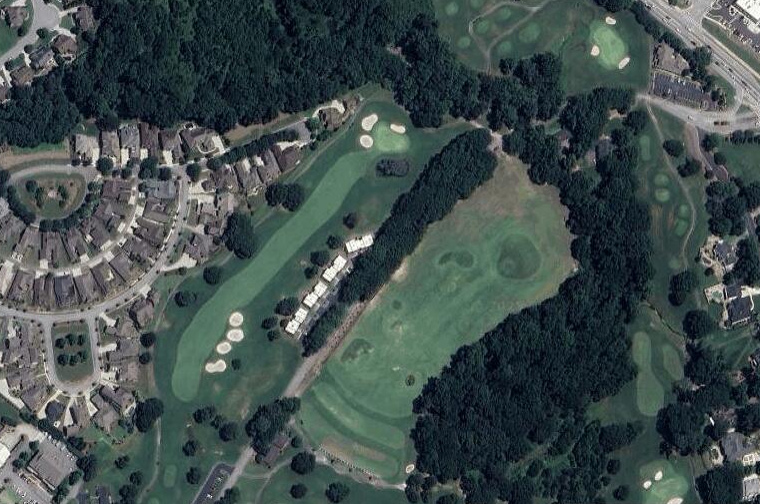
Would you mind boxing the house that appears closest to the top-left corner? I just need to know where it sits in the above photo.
[3,7,28,26]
